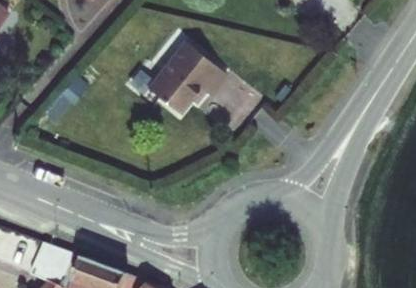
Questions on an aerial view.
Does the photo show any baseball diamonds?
No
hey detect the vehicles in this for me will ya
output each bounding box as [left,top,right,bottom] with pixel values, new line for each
[15,240,27,263]
[36,166,64,182]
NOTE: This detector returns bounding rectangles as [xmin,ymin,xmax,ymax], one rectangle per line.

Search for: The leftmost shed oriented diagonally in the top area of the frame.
[50,78,86,120]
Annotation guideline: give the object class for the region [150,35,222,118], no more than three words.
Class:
house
